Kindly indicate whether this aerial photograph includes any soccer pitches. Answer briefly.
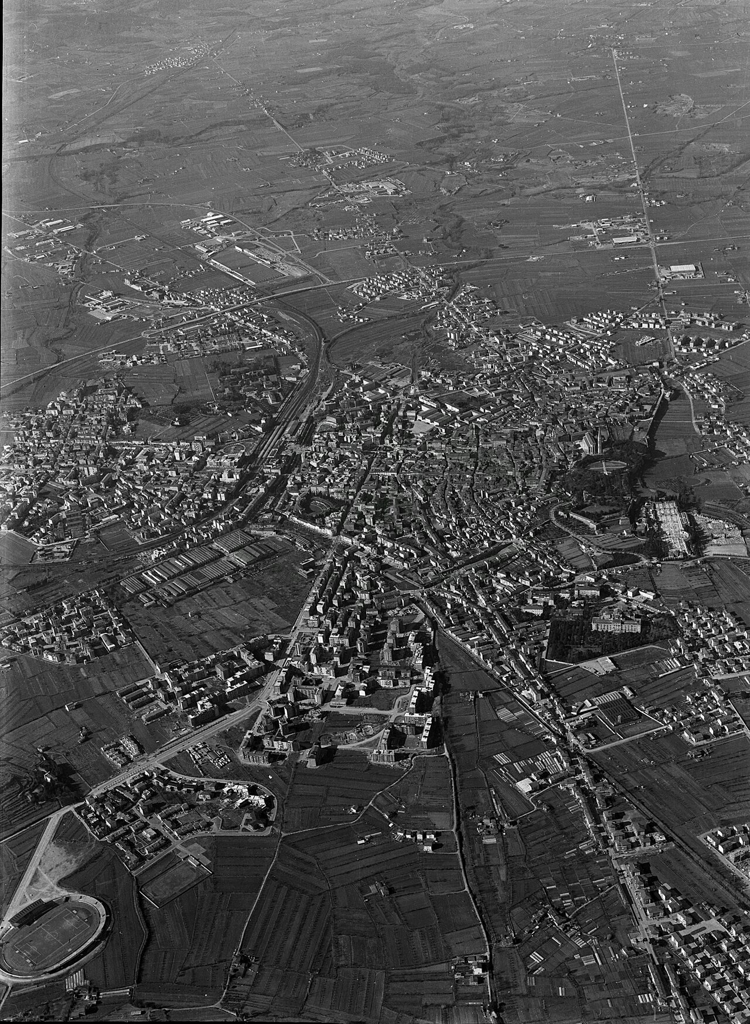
Yes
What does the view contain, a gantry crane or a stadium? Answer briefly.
stadium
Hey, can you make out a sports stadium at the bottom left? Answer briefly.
Yes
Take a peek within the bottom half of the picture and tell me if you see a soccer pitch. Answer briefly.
Yes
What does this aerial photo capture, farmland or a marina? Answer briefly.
farmland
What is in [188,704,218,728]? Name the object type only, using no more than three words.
building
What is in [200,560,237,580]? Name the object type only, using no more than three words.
shed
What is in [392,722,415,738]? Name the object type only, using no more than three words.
building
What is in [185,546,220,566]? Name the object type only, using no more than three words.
shed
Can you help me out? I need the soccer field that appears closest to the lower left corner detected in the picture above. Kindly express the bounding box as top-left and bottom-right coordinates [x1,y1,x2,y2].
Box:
[11,906,91,966]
